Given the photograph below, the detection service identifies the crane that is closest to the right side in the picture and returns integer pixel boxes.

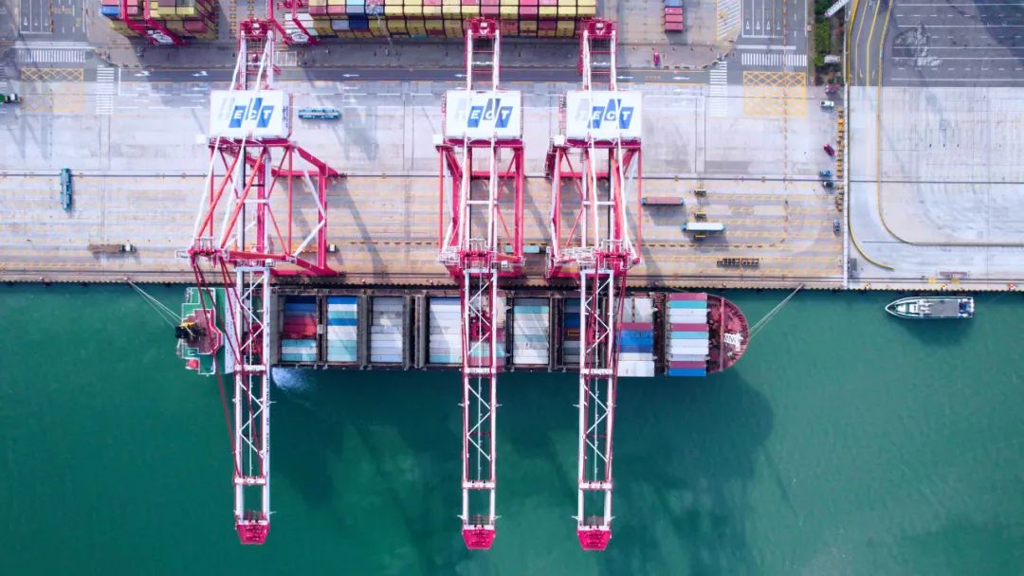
[539,17,647,550]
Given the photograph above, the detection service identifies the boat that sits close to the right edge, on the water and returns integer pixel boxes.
[886,296,976,318]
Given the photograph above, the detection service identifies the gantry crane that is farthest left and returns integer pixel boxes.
[111,0,188,45]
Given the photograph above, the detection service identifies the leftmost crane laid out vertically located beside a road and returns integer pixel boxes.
[188,14,346,547]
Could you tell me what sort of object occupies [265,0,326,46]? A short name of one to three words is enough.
container crane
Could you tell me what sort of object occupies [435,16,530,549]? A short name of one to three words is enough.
container crane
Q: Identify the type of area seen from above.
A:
port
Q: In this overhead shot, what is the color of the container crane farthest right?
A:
white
